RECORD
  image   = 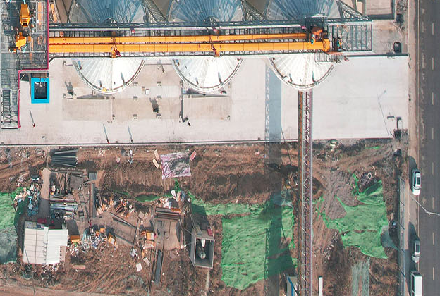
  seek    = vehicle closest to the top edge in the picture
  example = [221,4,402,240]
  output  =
[412,168,425,198]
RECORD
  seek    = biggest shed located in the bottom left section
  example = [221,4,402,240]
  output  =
[22,221,67,263]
